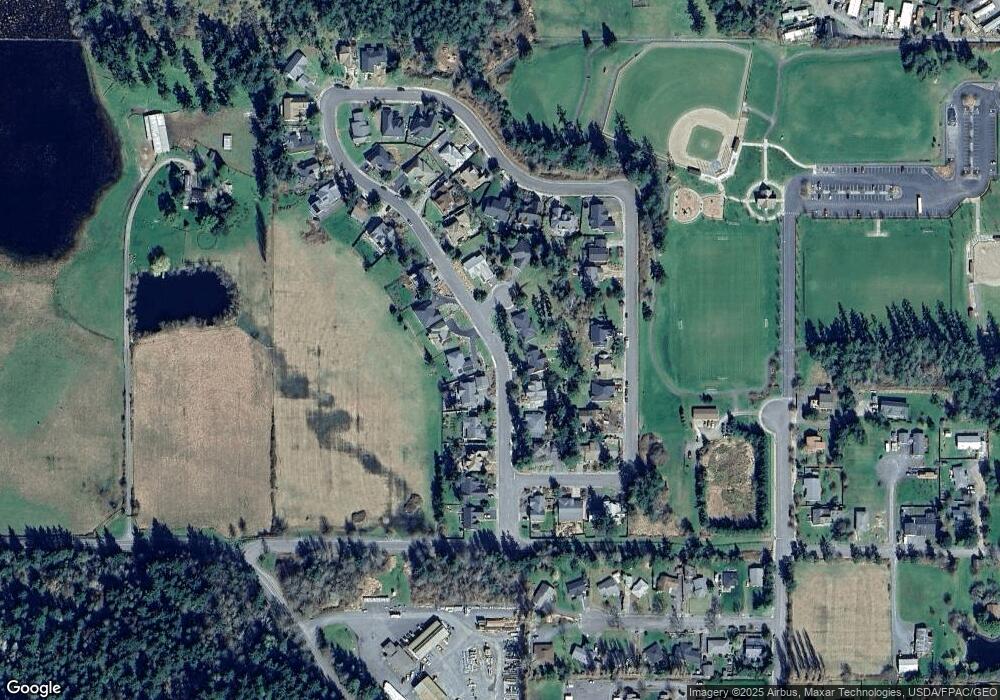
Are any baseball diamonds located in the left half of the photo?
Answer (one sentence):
No, there is no baseball diamond in the left half of the photo.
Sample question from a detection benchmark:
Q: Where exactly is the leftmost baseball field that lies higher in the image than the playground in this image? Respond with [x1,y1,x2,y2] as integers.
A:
[604,42,748,179]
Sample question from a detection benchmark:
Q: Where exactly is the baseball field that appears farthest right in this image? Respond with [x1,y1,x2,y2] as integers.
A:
[974,241,1000,318]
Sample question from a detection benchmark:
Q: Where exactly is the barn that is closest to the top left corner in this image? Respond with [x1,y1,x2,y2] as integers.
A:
[146,112,166,150]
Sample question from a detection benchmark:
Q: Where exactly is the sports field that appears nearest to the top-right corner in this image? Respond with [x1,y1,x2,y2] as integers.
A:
[782,52,936,161]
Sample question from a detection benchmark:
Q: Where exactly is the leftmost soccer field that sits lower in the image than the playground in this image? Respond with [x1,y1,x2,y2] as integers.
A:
[662,226,773,388]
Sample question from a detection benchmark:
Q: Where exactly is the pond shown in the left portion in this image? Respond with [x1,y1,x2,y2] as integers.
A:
[132,266,234,336]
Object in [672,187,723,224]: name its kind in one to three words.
playground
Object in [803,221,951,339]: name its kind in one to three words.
sports field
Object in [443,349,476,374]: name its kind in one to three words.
house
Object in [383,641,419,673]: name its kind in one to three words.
building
